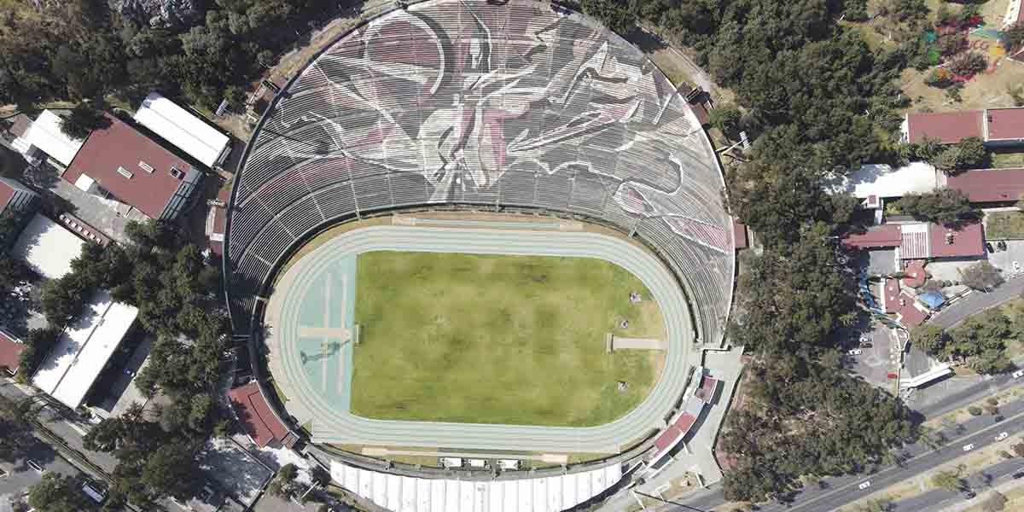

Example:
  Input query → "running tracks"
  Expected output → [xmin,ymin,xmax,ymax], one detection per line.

[266,224,697,450]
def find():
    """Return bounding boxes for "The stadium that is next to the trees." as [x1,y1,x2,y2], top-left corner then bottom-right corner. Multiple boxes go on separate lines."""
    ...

[220,0,738,512]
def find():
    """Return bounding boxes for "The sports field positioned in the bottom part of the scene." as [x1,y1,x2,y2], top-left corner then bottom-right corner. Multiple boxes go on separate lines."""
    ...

[351,253,669,421]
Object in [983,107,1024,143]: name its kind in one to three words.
building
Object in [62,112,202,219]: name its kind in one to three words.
building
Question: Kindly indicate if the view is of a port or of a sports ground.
sports ground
